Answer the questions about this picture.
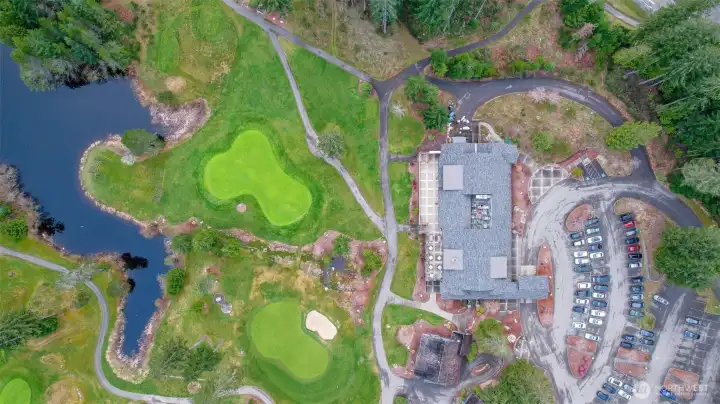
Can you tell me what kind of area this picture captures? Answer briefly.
golf course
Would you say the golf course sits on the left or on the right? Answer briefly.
left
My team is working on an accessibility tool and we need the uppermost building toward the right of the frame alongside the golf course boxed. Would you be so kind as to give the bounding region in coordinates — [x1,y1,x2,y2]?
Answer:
[428,137,550,299]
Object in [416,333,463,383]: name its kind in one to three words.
barn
